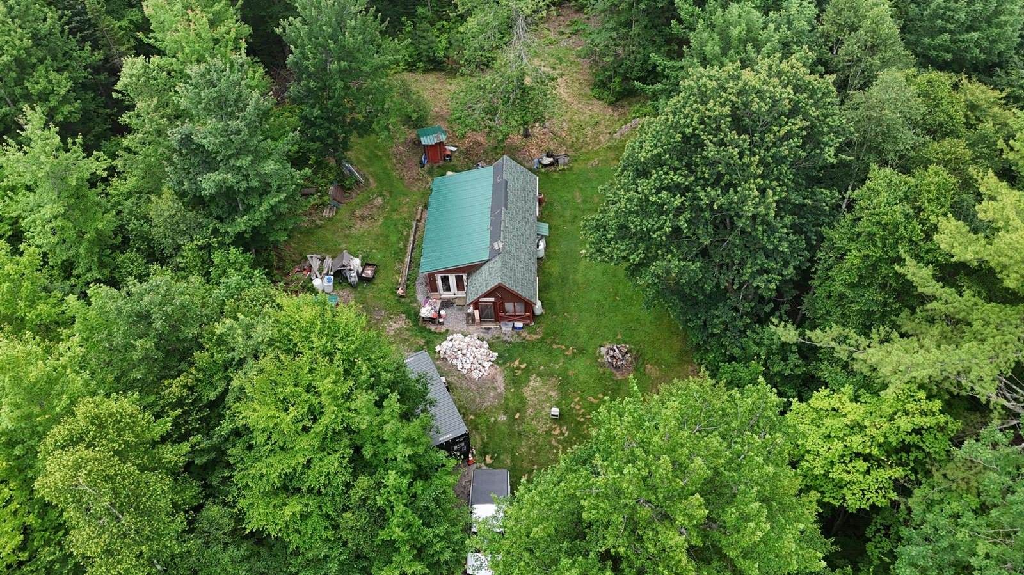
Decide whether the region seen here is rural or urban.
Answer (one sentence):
The area is rural.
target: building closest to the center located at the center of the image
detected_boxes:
[420,156,546,334]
